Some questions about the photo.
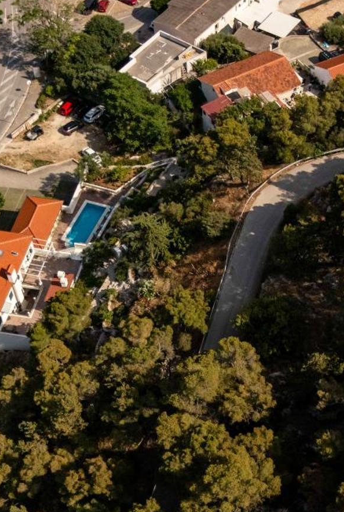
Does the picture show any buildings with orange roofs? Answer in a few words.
Yes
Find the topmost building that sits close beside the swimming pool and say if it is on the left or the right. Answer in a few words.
left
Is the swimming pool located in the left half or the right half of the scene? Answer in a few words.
left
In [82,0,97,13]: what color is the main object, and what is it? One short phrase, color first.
black vehicle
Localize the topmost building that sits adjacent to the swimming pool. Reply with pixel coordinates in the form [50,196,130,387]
[10,197,63,263]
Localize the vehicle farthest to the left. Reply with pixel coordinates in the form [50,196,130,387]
[23,125,47,143]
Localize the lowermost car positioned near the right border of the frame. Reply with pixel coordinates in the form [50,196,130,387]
[314,48,338,62]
